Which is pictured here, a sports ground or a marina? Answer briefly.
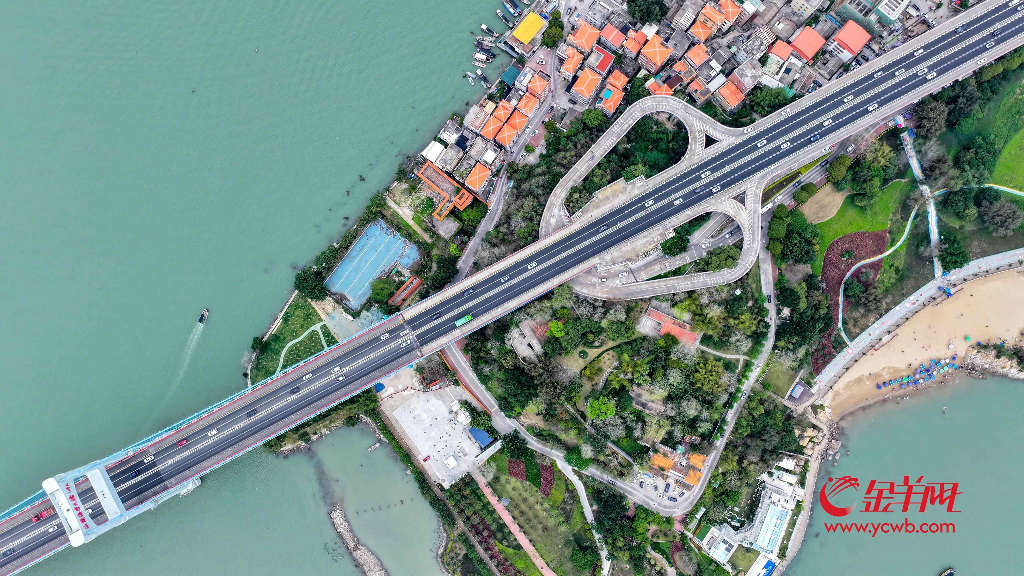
marina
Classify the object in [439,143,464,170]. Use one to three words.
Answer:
house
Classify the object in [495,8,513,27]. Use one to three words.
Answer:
boat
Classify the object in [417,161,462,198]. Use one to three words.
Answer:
building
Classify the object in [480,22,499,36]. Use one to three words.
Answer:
boat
